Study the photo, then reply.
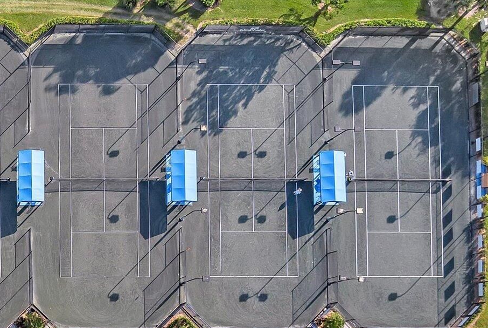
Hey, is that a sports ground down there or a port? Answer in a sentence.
This image shows a sports ground.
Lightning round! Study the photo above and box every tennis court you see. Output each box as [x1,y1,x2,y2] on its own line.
[323,35,472,328]
[177,33,329,328]
[0,35,32,328]
[29,33,182,328]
